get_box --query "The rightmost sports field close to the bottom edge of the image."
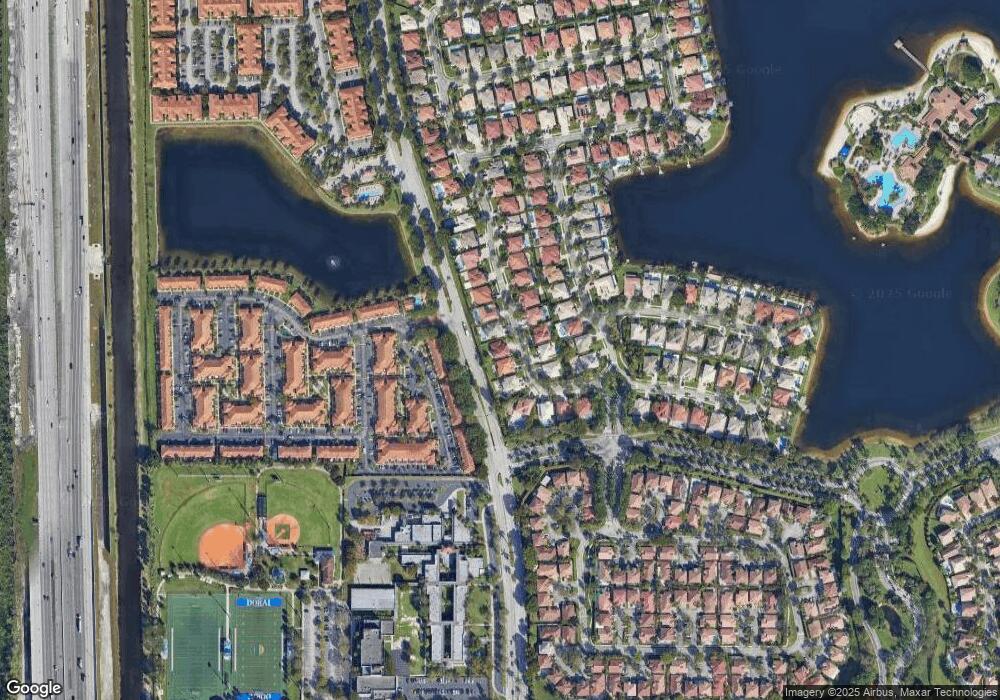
[231,594,288,700]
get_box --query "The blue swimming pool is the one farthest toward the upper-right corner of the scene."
[889,127,920,150]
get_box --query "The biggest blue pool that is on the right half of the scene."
[865,170,906,208]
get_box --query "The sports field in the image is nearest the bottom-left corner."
[168,594,227,700]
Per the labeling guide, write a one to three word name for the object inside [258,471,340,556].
baseball field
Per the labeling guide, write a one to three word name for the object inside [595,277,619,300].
house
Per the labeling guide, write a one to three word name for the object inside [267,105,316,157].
building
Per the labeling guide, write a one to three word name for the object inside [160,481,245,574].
baseball field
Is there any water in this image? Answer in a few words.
Yes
